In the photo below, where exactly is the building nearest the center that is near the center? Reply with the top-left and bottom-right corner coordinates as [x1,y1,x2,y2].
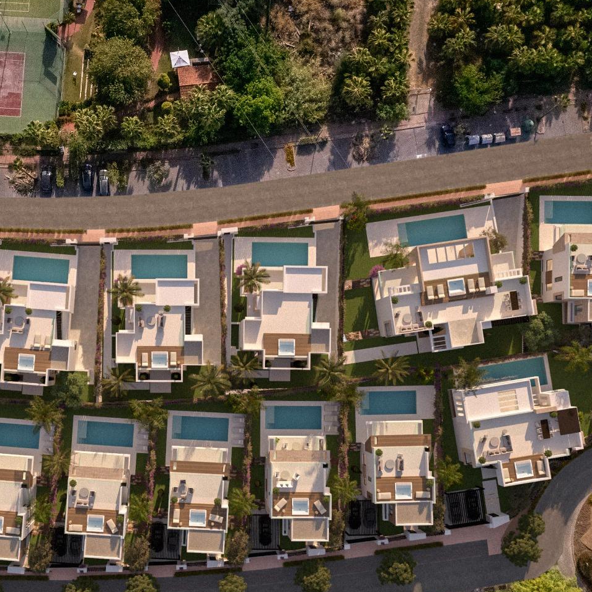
[238,266,331,370]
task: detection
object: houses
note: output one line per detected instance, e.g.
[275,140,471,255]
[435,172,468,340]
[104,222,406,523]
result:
[166,443,237,557]
[0,452,45,563]
[64,448,140,562]
[0,280,80,386]
[361,419,437,528]
[115,280,205,385]
[538,222,592,331]
[366,237,538,351]
[265,434,337,543]
[435,376,587,484]
[238,266,331,370]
